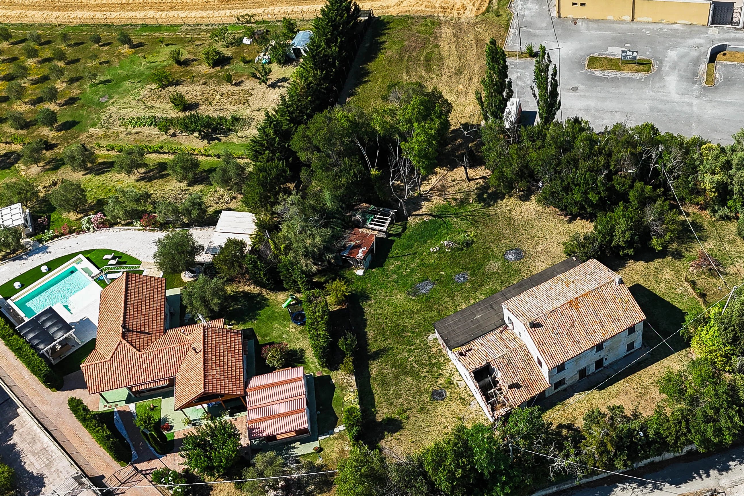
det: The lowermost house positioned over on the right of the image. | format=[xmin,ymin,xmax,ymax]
[434,256,646,430]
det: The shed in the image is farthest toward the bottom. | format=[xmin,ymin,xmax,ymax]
[247,366,312,445]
